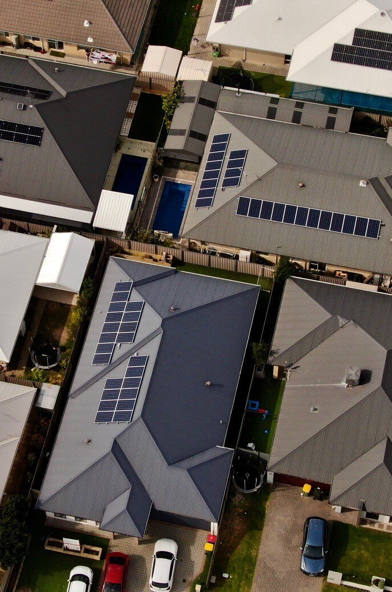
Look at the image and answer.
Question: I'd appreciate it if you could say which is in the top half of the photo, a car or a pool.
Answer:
pool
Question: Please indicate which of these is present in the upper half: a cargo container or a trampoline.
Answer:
trampoline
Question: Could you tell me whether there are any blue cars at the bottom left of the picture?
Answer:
No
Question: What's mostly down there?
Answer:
buildings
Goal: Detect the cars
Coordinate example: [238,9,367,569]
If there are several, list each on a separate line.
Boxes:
[97,550,130,592]
[149,538,180,592]
[299,515,329,579]
[63,564,93,592]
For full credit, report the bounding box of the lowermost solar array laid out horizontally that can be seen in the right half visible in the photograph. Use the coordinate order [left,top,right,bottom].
[237,197,381,239]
